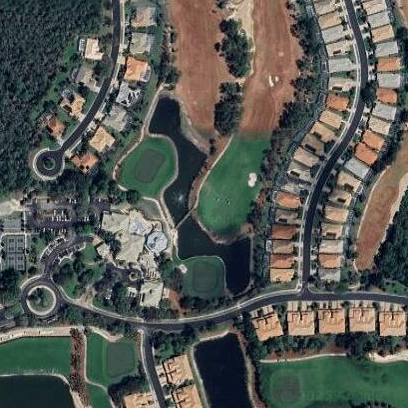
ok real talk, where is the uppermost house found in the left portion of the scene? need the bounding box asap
[135,8,157,25]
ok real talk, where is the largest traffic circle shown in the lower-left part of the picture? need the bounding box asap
[20,279,61,320]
